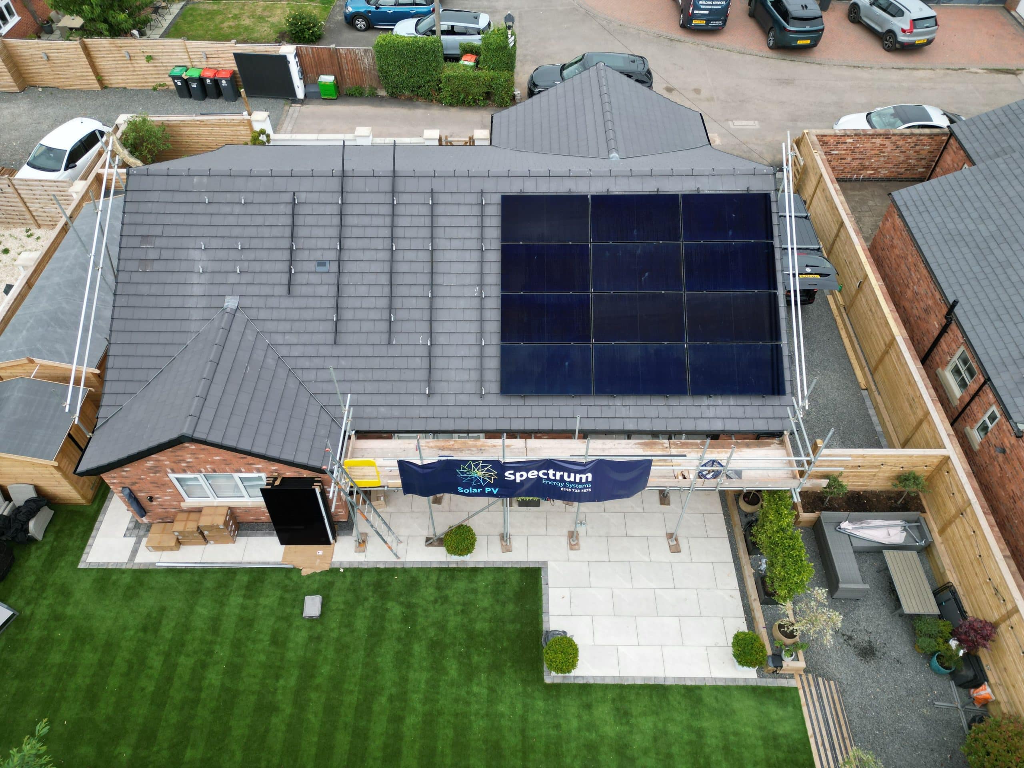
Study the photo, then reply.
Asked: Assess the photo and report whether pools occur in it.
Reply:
No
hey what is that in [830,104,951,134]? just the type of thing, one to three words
car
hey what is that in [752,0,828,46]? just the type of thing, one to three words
car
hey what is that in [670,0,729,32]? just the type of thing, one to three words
van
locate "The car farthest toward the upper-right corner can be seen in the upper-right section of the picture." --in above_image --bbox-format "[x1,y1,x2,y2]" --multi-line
[854,0,945,51]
